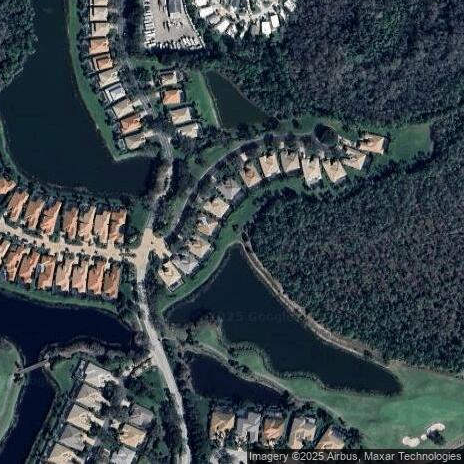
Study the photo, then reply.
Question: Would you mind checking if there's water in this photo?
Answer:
Yes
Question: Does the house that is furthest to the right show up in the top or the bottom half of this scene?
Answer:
top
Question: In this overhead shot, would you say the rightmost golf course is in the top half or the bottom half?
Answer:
bottom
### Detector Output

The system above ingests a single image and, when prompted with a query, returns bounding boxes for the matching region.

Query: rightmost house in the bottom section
[313,422,349,456]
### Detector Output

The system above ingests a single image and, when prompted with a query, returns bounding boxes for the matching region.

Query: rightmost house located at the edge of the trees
[361,133,389,152]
